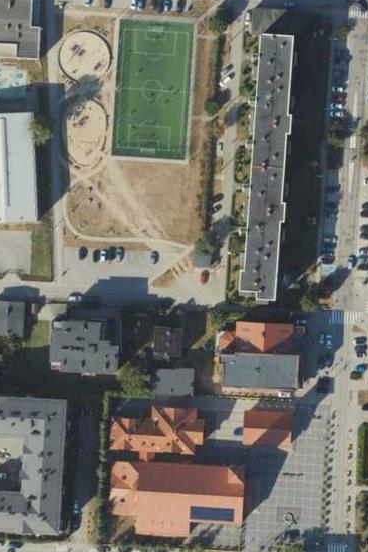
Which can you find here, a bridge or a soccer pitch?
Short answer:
soccer pitch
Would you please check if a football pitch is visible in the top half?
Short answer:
Yes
